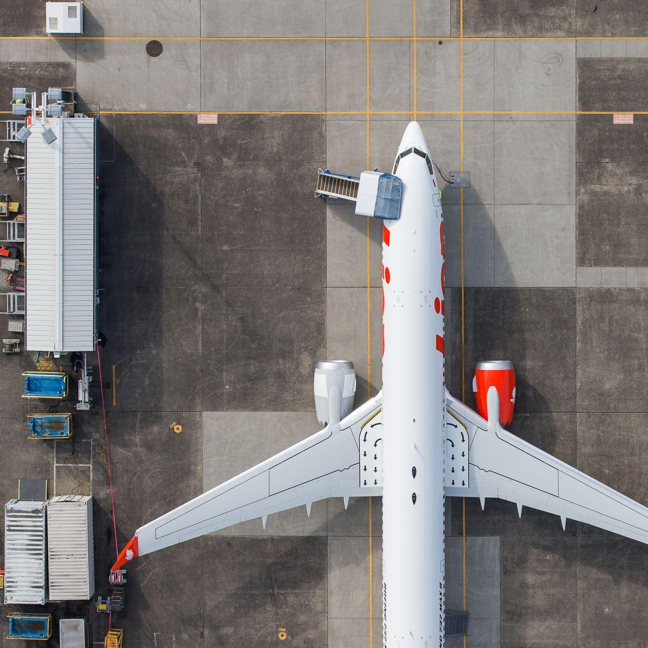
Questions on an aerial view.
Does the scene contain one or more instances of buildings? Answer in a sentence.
Yes, you can see a building in this photo.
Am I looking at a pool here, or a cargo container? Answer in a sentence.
It is a cargo container that can be seen here.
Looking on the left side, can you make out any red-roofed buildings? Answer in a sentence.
No, looking on the left side, there is no red-roofed building.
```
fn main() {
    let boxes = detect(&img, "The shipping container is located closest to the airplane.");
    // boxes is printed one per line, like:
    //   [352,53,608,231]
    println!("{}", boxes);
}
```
[47,496,94,600]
